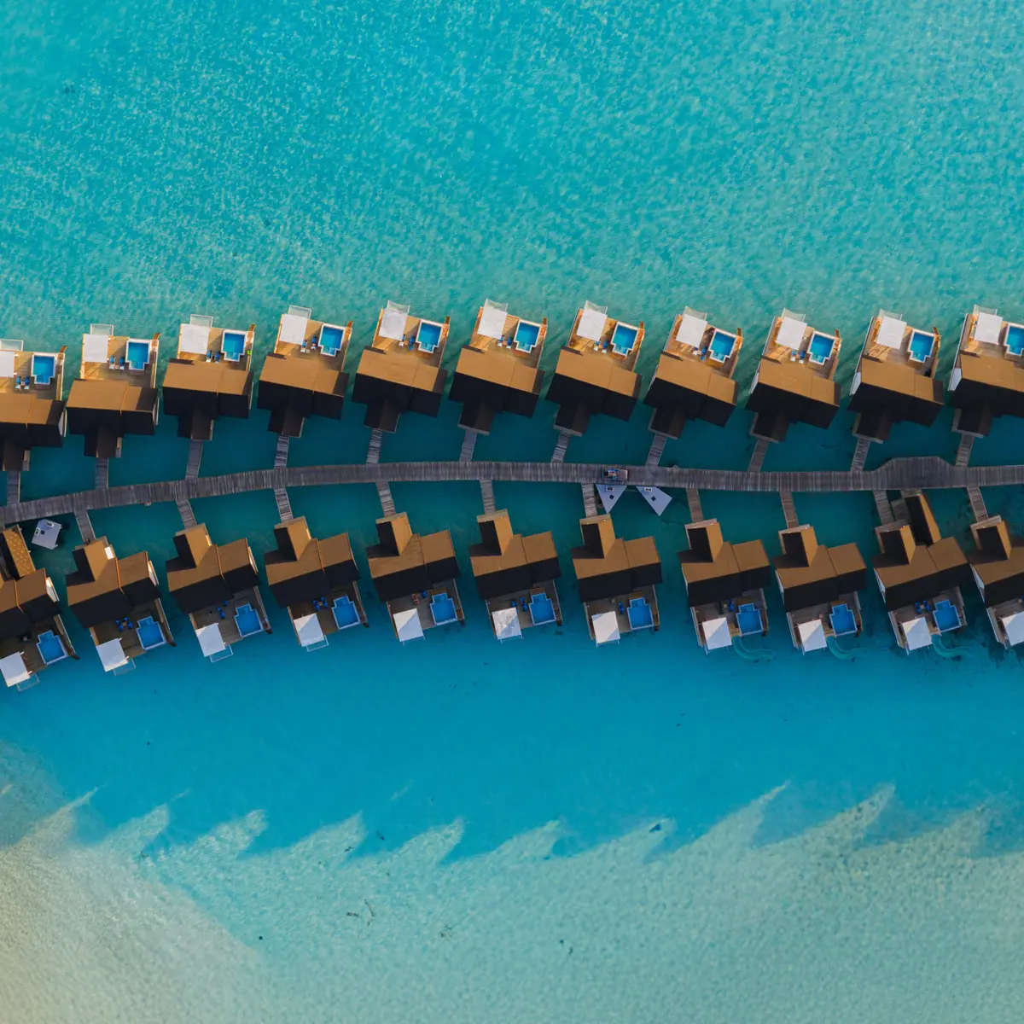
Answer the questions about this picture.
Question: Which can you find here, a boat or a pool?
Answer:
pool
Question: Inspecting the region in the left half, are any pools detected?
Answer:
Yes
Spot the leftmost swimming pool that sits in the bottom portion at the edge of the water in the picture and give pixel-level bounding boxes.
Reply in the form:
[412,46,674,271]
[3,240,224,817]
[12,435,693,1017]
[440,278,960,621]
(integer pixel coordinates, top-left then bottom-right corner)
[39,634,69,667]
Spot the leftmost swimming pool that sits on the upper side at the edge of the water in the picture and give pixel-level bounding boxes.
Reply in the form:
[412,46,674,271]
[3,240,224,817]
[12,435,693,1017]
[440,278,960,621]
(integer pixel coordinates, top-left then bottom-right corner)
[33,354,57,384]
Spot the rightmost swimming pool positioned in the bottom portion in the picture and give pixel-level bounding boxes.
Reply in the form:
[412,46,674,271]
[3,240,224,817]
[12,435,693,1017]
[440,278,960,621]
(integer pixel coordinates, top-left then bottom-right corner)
[931,602,960,634]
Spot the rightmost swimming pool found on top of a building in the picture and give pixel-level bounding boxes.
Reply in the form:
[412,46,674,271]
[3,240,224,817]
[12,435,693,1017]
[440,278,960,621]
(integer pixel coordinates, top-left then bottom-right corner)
[1003,324,1024,357]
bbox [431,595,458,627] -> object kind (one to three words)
swimming pool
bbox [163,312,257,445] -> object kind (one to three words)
house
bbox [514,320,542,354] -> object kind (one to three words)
swimming pool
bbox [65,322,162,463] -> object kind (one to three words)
house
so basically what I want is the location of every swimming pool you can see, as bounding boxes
[611,322,639,356]
[931,602,960,634]
[138,621,167,653]
[332,599,360,632]
[125,340,150,371]
[431,595,458,627]
[221,332,247,363]
[708,330,738,363]
[319,325,346,358]
[514,320,542,354]
[830,606,857,638]
[236,607,264,639]
[529,595,556,627]
[1003,324,1024,357]
[416,321,444,354]
[39,634,69,667]
[907,330,936,363]
[736,605,763,637]
[807,331,836,364]
[628,600,654,631]
[33,354,57,384]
